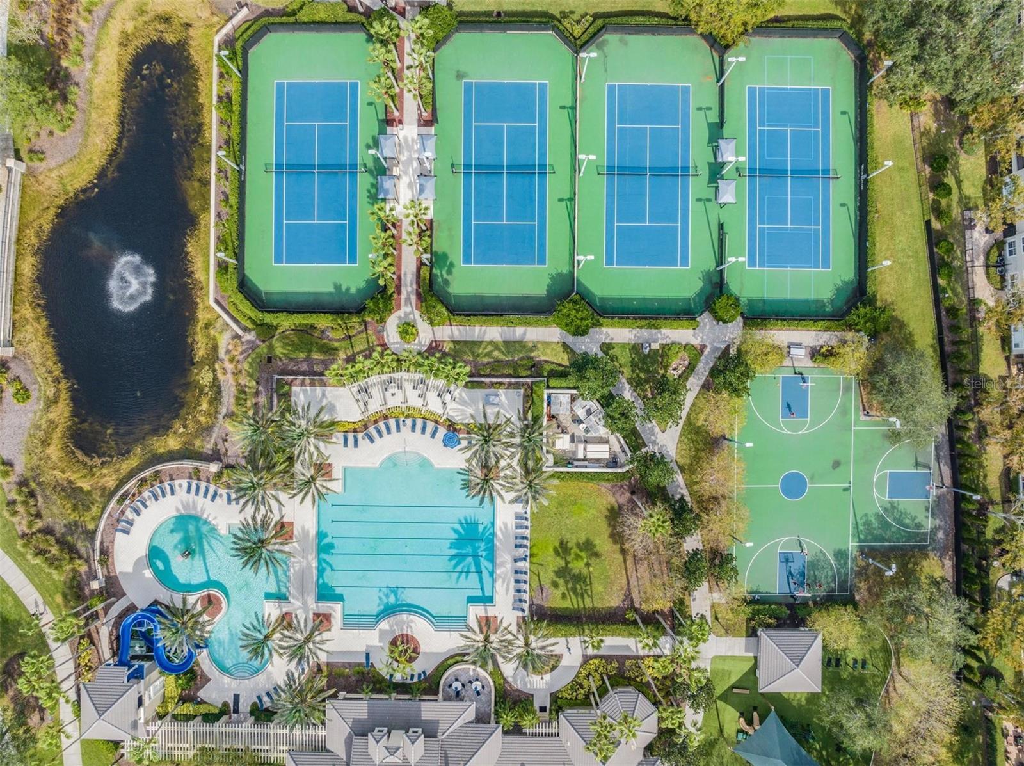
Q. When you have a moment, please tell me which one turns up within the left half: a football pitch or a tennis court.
tennis court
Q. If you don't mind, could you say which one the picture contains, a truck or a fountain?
fountain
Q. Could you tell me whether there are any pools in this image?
Yes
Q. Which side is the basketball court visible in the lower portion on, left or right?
right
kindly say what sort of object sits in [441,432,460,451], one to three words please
umbrella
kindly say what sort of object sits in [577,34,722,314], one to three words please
tennis court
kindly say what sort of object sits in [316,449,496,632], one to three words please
swimming pool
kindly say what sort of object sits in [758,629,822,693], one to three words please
building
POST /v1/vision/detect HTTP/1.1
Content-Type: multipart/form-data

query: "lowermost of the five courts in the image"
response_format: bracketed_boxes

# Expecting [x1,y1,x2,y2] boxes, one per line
[732,368,938,603]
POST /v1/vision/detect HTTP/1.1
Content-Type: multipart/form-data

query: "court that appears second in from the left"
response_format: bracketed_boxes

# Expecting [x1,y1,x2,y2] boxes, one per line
[433,33,576,311]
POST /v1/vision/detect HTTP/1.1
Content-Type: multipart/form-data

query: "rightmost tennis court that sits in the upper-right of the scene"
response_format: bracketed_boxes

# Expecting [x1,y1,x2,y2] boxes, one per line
[722,38,860,315]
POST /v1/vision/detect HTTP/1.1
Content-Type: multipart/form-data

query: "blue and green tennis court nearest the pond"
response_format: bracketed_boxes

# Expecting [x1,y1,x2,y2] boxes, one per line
[244,33,386,308]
